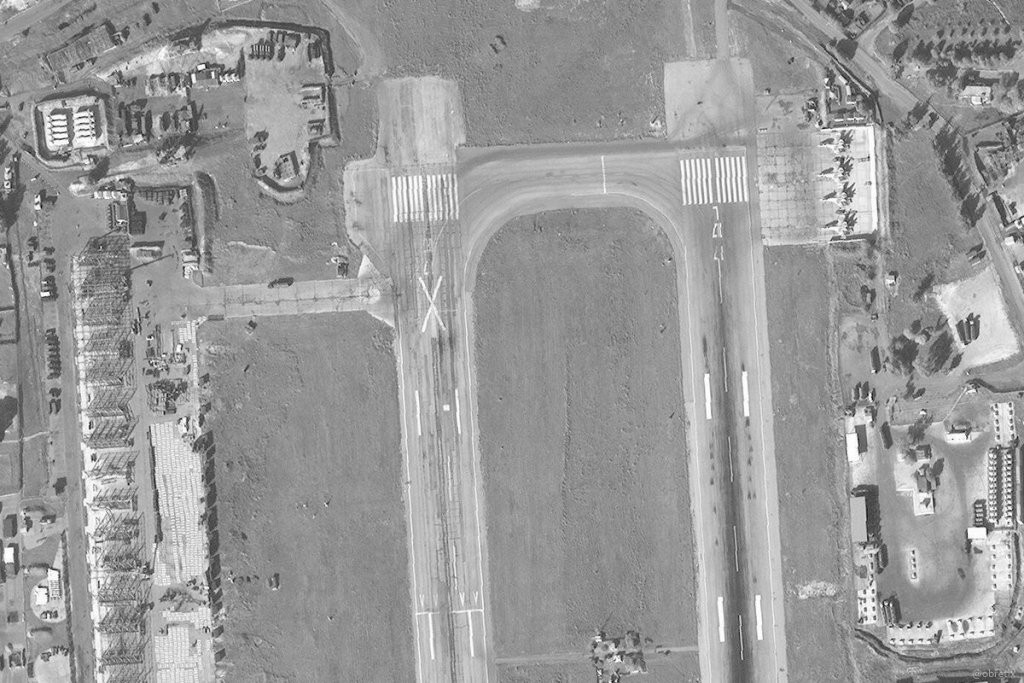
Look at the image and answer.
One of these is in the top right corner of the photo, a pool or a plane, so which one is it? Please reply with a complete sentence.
The feature located in the top right corner of the photo is a plane.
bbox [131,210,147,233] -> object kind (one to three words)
building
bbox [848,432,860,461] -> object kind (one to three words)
building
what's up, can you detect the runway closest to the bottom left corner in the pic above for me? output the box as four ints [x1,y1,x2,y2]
[391,166,487,683]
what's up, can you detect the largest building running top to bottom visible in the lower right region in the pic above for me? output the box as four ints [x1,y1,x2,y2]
[851,497,869,542]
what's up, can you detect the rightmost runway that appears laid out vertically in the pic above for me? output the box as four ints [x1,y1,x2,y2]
[680,145,776,683]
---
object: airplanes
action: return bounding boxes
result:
[822,164,851,185]
[824,191,853,212]
[820,137,850,158]
[824,217,854,238]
